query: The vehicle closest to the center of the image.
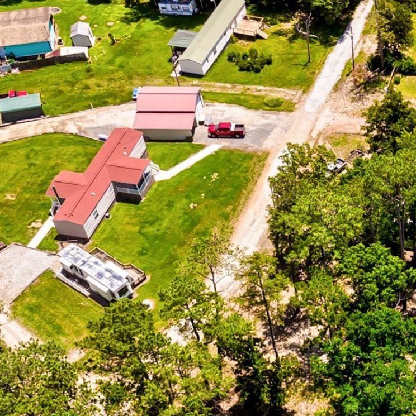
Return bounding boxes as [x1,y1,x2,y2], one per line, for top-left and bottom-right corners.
[205,123,246,139]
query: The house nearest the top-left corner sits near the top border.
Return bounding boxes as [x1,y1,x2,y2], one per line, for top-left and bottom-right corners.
[0,6,56,68]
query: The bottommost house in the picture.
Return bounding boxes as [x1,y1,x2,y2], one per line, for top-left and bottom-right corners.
[46,128,163,241]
